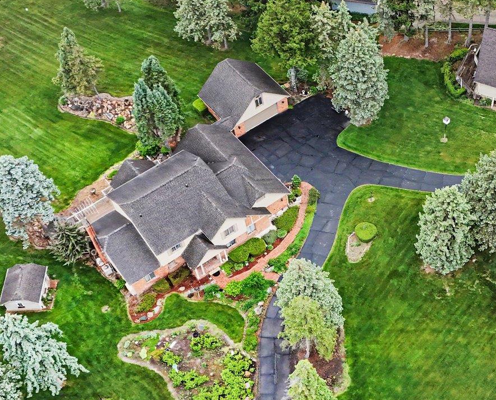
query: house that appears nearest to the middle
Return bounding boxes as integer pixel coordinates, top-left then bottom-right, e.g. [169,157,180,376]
[76,57,292,296]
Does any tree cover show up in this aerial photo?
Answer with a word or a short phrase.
Yes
